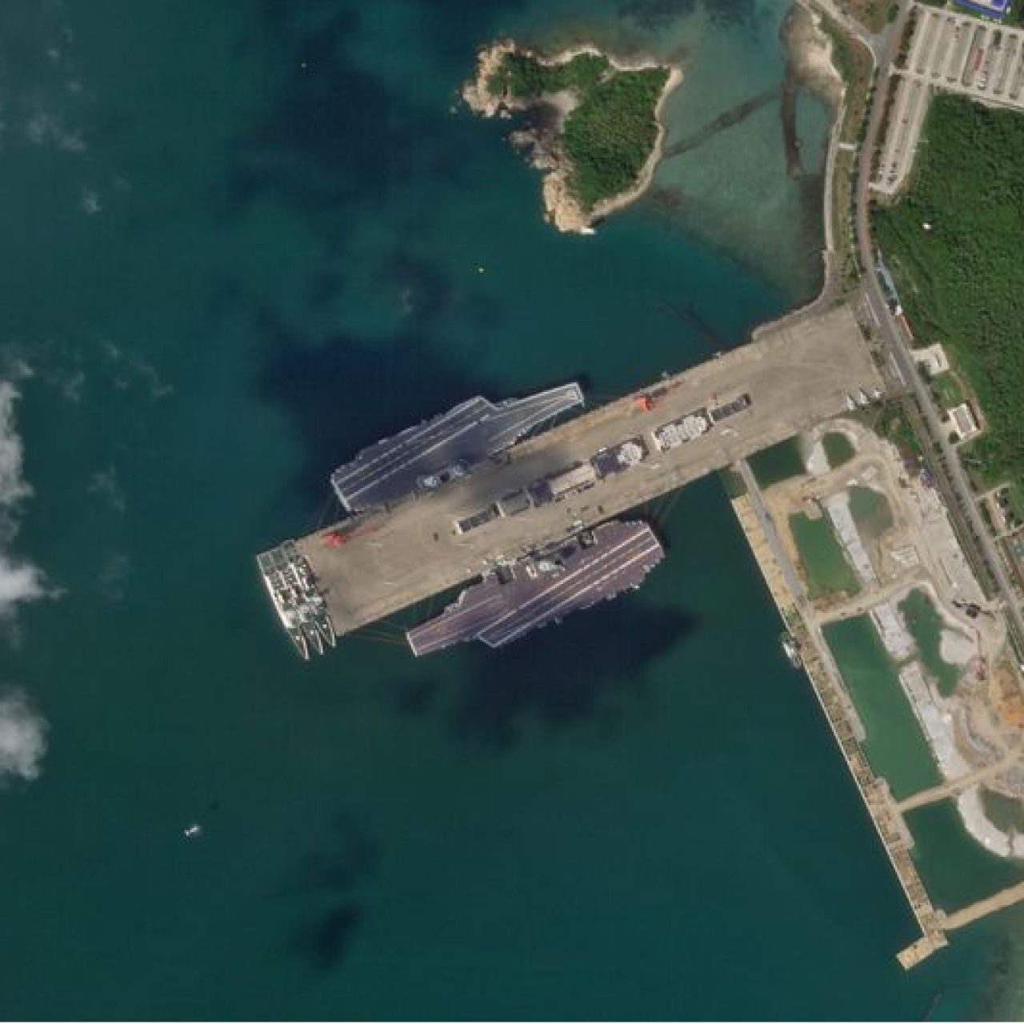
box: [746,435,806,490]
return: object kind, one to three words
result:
pond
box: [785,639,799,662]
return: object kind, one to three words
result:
boat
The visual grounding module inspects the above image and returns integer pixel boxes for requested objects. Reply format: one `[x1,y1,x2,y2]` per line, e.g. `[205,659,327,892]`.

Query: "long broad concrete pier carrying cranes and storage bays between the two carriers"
[293,302,884,639]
